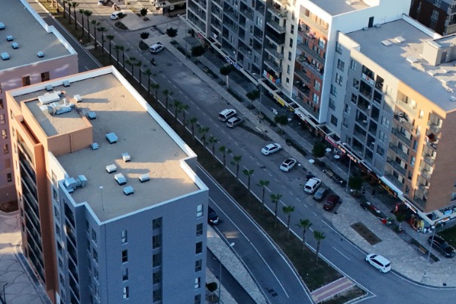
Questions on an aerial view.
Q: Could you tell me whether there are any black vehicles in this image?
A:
Yes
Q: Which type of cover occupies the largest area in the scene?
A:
buildings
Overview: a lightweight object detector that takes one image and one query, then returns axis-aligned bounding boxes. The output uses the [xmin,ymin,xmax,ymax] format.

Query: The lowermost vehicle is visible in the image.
[363,250,394,269]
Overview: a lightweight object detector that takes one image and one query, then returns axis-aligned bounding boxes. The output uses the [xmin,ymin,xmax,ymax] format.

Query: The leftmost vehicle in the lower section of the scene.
[207,203,224,223]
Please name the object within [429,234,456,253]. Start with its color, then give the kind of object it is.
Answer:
black car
